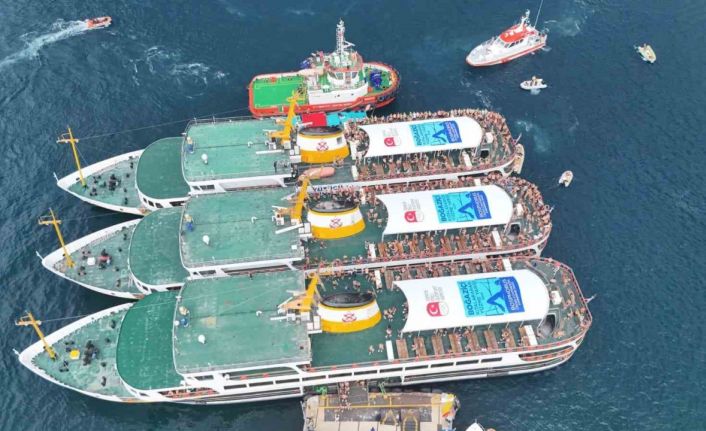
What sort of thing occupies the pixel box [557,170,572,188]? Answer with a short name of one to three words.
boat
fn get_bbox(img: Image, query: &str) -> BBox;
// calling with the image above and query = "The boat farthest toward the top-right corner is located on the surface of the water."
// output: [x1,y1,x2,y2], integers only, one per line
[635,45,657,61]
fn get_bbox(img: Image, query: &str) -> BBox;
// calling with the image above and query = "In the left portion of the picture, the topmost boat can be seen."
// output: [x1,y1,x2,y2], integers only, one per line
[82,18,112,31]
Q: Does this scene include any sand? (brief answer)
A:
No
